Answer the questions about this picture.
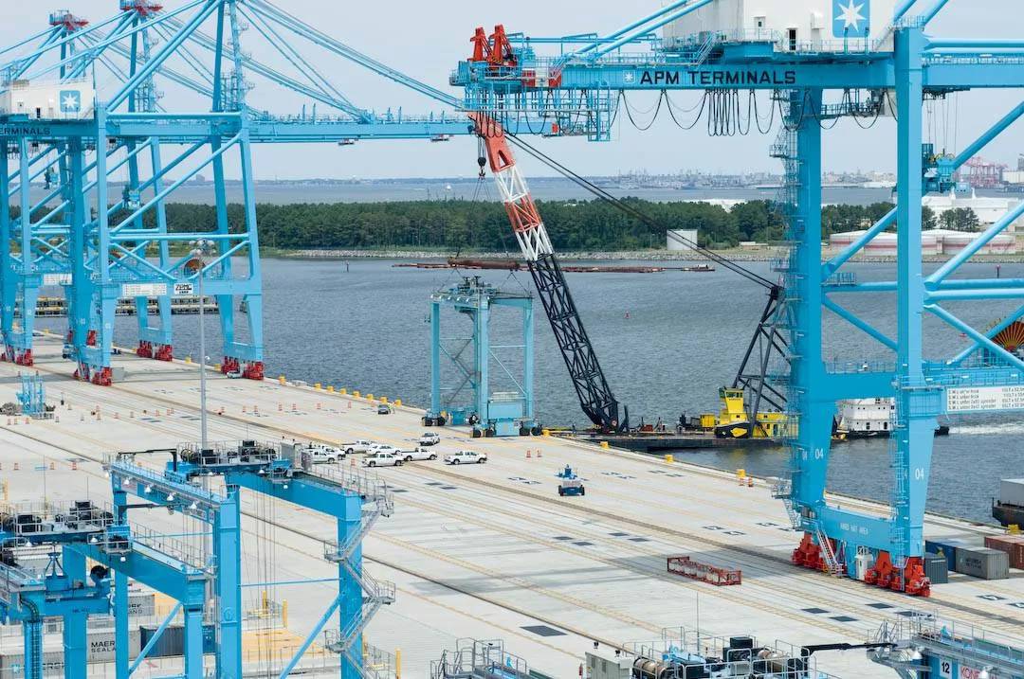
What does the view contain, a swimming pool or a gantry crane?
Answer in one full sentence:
I can see a gantry crane in this picture.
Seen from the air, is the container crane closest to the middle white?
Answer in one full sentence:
No, the container crane closest to the middle is blue.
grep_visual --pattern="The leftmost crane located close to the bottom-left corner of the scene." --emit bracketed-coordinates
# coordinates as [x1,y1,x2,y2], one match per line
[0,451,217,679]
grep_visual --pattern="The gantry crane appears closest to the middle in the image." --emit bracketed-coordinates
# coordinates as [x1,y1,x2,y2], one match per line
[409,273,542,437]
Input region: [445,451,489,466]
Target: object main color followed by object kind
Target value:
white vehicle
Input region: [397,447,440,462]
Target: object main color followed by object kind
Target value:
white vehicle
